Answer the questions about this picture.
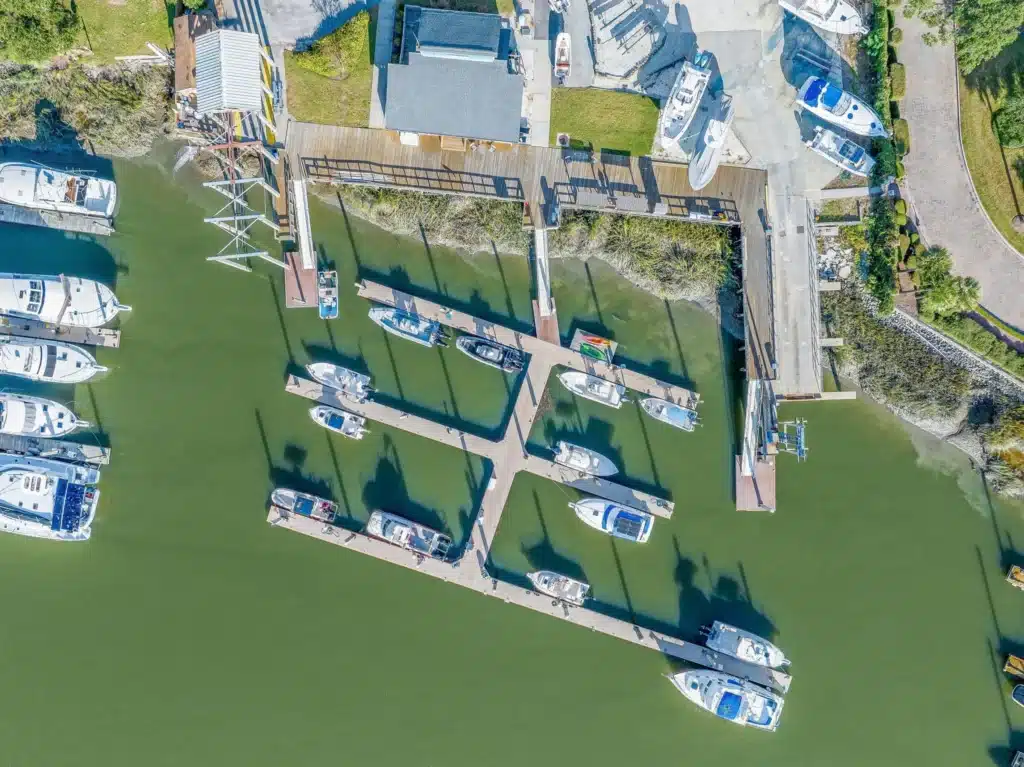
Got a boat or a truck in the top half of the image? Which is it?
boat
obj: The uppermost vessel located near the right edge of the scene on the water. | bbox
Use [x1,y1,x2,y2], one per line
[999,560,1024,590]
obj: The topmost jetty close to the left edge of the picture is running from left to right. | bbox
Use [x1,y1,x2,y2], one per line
[0,203,115,237]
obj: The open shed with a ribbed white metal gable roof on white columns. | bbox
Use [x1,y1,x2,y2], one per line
[195,28,273,128]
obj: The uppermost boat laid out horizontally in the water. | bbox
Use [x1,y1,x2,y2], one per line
[0,153,121,222]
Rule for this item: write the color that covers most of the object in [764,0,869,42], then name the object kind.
white boat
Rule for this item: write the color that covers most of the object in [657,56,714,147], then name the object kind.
white boat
